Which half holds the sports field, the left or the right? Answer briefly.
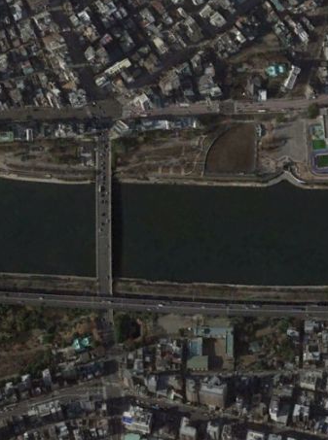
right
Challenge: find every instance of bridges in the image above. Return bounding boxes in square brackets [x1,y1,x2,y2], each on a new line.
[95,115,113,298]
